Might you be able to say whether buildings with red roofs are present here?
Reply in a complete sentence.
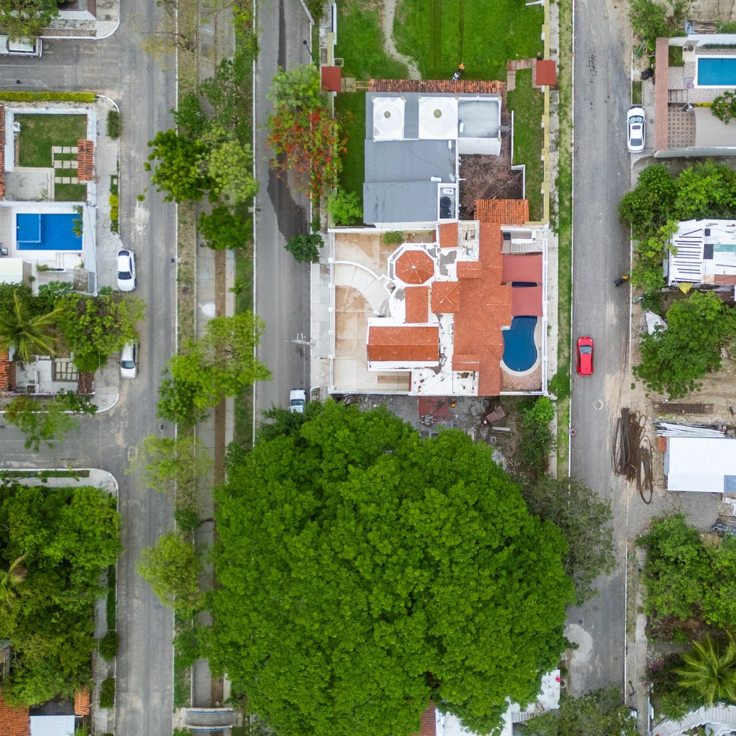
Yes, a building with a red roof is visible in the scene.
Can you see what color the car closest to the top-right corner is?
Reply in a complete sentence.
From above, the car closest to the top-right corner appears white.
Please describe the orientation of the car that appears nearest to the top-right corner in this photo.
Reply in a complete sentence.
What the image shows is the car that appears nearest to the top-right corner lying vertically.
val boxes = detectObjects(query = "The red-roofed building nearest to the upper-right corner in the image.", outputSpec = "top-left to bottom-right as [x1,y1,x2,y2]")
[536,60,556,86]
